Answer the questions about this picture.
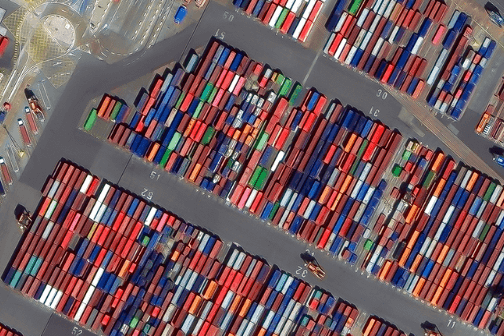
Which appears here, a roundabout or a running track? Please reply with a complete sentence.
This aerial view contains a roundabout.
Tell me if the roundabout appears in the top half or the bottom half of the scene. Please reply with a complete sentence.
You can find the roundabout in the top half.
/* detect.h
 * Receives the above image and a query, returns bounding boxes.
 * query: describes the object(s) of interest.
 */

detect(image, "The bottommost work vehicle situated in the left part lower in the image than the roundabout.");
[19,210,36,230]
